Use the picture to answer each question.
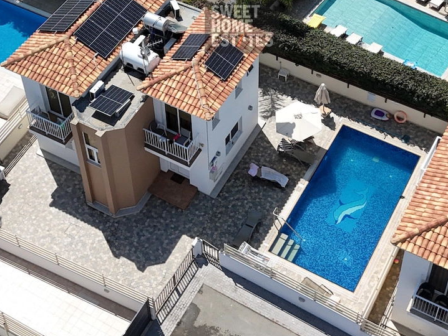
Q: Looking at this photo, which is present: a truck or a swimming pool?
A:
swimming pool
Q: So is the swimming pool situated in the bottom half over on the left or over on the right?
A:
right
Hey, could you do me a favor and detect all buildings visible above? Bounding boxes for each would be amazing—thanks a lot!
[382,124,448,336]
[0,0,275,220]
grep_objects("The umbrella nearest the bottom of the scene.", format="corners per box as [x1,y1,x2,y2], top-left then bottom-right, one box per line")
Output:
[271,106,331,149]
